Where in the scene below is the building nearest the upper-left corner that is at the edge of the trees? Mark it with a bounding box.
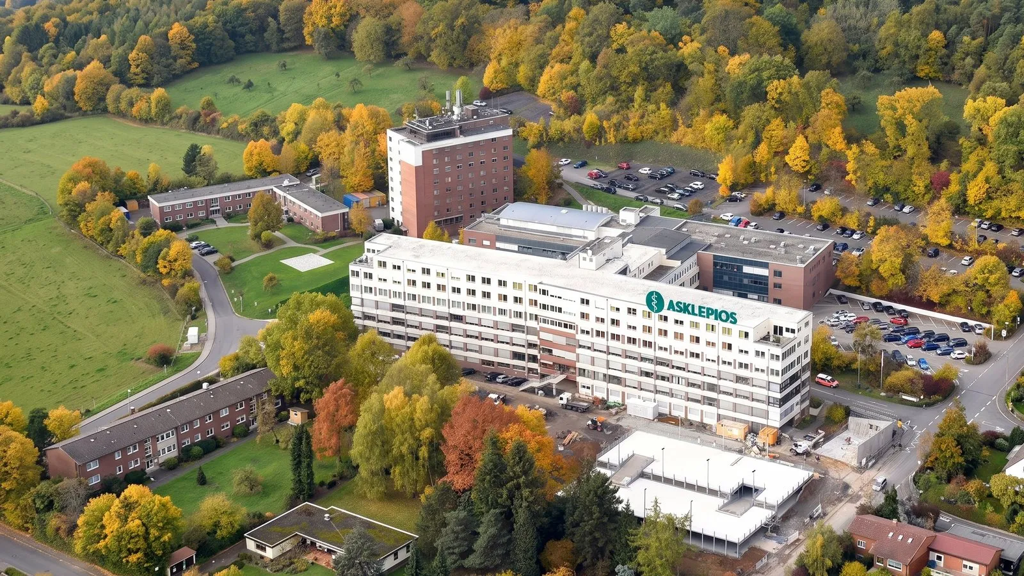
[145,170,353,231]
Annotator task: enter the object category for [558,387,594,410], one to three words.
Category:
truck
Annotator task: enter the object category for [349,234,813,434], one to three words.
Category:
building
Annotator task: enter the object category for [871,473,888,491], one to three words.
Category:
vehicle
